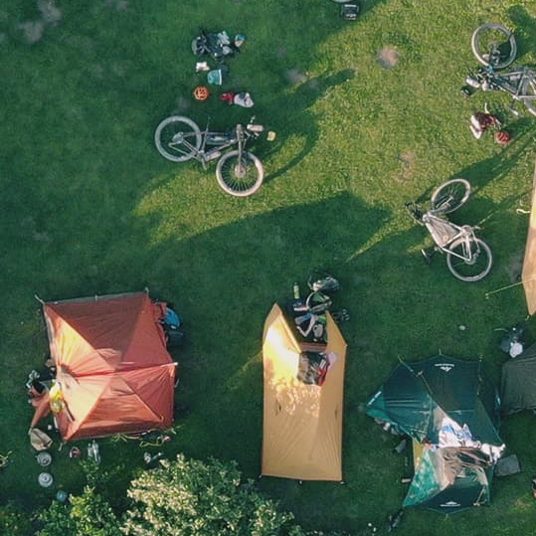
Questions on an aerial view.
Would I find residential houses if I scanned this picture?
No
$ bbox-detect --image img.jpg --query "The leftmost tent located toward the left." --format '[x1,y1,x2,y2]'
[29,291,179,450]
